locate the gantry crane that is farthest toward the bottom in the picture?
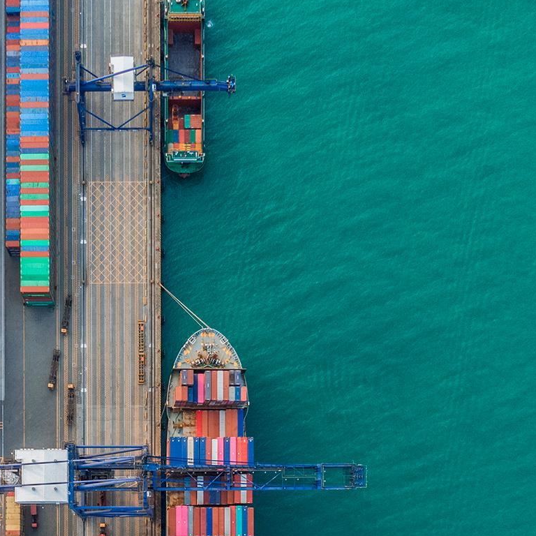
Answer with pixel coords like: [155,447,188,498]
[0,435,368,532]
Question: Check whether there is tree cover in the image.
No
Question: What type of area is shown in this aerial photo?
port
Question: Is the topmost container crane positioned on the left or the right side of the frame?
left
